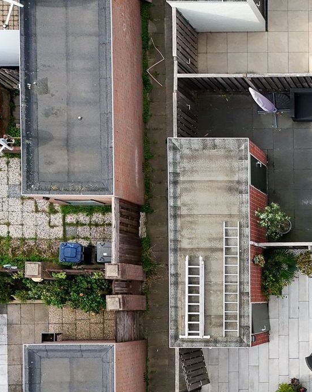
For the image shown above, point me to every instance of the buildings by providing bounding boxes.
[25,340,145,392]
[168,138,270,347]
[168,0,272,28]
[20,0,144,205]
